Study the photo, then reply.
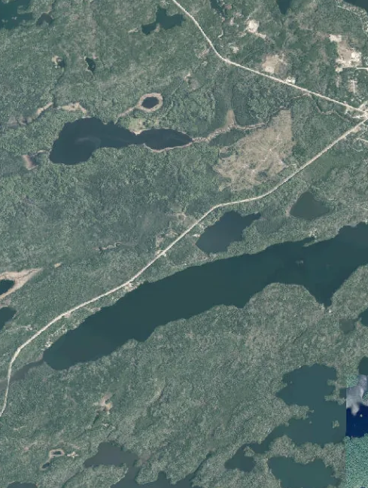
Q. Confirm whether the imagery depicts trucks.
No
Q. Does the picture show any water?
Yes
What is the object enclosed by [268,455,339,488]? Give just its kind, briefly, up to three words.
pond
